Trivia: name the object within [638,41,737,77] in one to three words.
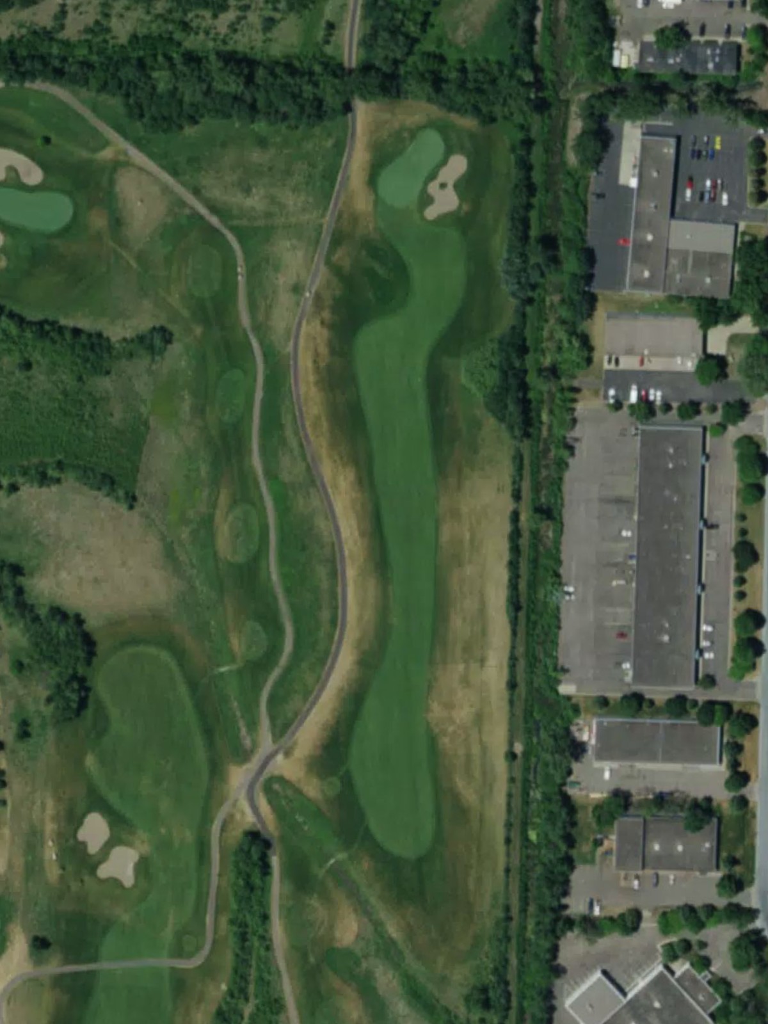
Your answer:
building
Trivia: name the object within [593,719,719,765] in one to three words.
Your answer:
building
